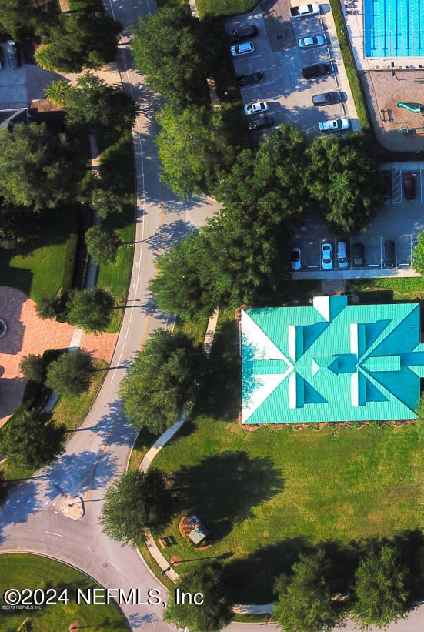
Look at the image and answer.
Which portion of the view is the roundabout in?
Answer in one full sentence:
You can find the roundabout in the bottom left area of the picture.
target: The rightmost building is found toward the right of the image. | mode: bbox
[240,293,424,425]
